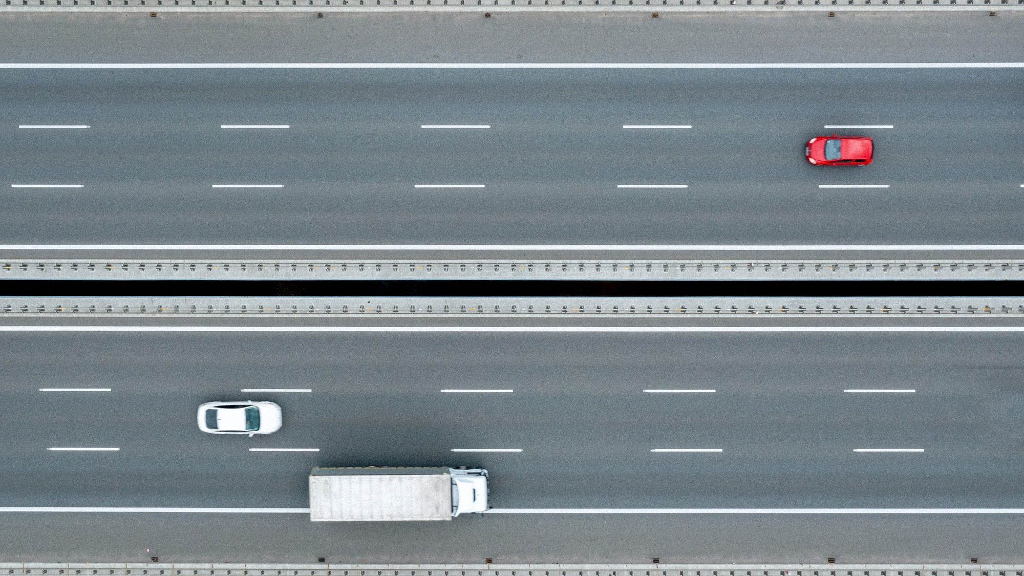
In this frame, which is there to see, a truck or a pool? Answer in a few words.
truck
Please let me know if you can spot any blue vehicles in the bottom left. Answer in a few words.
No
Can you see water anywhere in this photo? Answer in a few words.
No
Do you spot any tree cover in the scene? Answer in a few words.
No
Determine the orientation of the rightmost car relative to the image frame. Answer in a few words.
horizontally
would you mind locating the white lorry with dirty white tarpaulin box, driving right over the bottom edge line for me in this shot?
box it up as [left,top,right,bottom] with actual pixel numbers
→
[309,464,490,521]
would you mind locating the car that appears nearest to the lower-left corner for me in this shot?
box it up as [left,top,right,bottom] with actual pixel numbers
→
[197,400,283,438]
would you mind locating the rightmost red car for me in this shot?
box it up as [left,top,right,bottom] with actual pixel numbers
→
[805,132,874,167]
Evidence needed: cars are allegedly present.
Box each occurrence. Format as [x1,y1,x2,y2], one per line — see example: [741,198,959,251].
[197,400,283,438]
[805,132,874,167]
